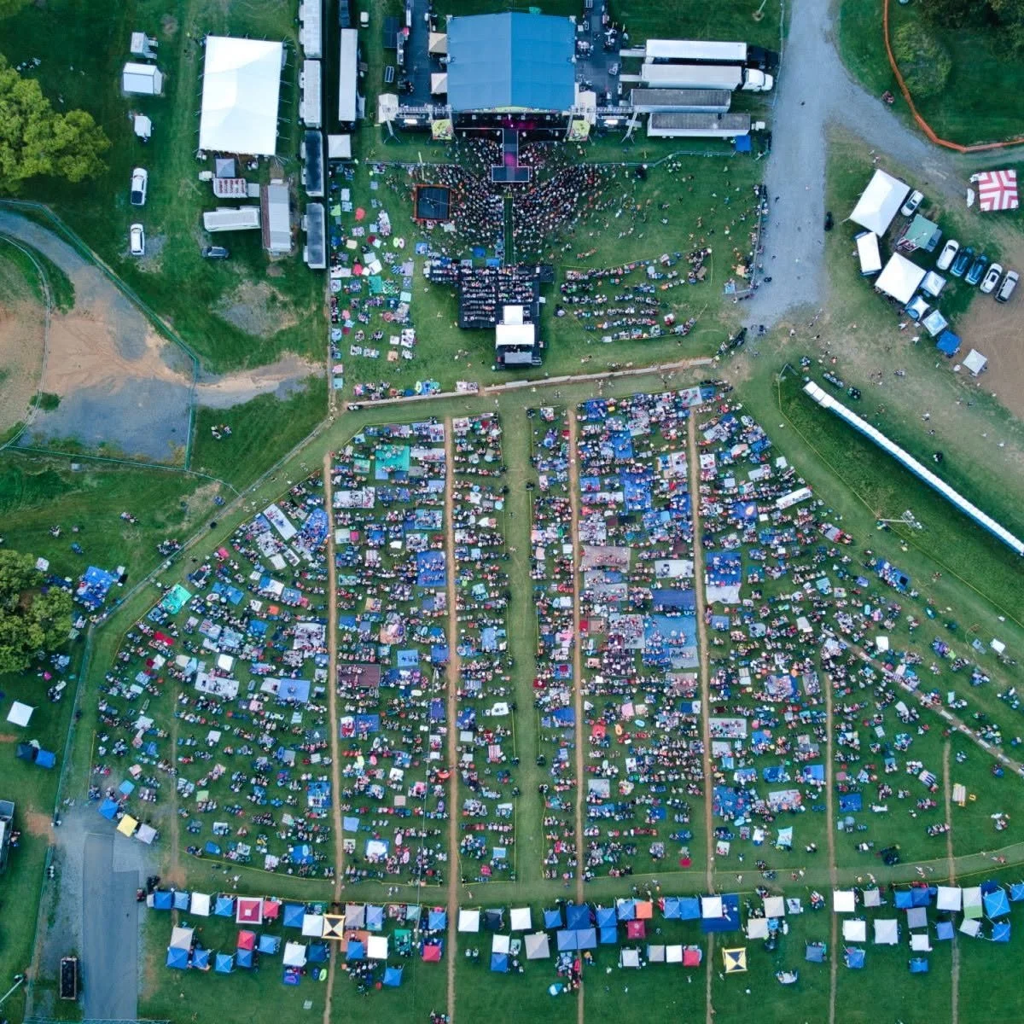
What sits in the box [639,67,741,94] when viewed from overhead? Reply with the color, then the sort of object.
white trailer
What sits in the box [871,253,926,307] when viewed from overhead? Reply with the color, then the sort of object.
white tent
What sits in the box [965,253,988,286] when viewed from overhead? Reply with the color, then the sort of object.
blue car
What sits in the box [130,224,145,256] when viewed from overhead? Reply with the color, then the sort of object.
white car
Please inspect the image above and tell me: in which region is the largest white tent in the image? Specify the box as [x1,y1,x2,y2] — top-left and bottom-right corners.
[193,35,297,171]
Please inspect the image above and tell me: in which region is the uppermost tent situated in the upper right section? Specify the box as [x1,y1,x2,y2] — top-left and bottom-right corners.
[845,169,910,240]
